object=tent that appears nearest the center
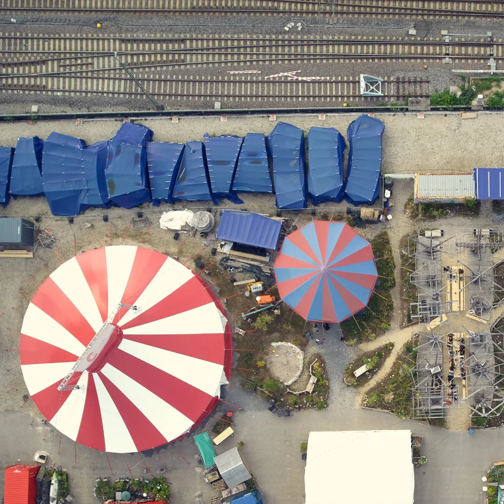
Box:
[258,211,392,343]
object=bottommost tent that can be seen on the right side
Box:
[305,427,413,504]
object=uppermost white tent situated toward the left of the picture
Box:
[13,227,255,472]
